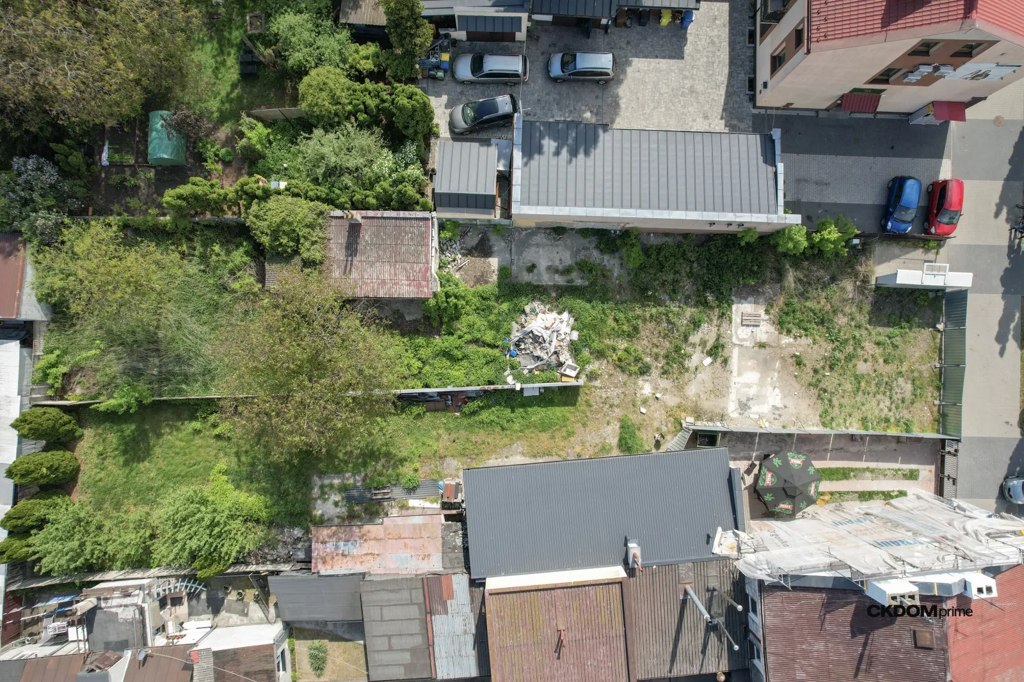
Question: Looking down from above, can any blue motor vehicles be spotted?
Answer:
Yes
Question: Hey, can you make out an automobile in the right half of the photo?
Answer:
Yes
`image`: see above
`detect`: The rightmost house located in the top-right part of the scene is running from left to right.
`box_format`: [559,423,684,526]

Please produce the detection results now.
[746,0,1024,134]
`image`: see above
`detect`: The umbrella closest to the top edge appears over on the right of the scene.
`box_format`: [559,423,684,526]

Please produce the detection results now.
[756,450,820,516]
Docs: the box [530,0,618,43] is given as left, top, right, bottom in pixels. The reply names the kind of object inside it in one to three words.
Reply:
building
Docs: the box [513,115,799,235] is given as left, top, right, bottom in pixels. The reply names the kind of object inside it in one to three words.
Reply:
building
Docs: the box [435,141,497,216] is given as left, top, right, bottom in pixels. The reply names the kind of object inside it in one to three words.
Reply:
shed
